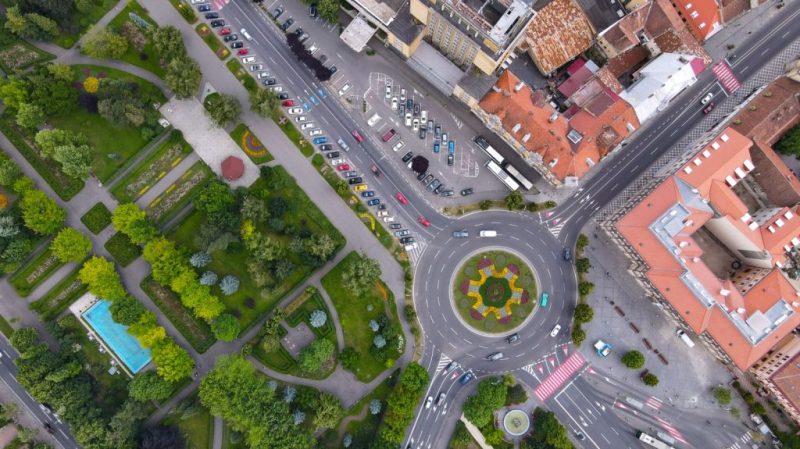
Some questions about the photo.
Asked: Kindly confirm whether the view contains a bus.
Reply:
Yes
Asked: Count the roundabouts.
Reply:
1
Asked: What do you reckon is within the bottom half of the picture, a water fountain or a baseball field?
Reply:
water fountain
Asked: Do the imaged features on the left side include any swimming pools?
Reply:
Yes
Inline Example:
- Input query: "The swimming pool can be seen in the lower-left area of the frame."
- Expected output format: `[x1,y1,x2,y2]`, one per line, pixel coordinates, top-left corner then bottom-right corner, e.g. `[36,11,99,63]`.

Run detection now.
[68,290,159,377]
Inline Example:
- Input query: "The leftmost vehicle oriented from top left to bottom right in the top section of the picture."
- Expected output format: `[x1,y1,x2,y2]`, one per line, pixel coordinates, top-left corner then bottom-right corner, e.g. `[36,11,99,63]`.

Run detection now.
[239,27,253,42]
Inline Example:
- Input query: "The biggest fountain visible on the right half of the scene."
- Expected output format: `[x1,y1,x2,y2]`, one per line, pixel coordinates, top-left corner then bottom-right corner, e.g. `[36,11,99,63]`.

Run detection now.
[505,410,530,436]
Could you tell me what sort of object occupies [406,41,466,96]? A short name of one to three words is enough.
building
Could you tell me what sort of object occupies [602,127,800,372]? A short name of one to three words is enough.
building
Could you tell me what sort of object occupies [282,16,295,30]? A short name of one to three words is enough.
vehicle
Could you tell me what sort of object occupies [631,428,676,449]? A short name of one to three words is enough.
bus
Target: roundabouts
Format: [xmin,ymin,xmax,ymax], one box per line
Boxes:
[413,210,577,373]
